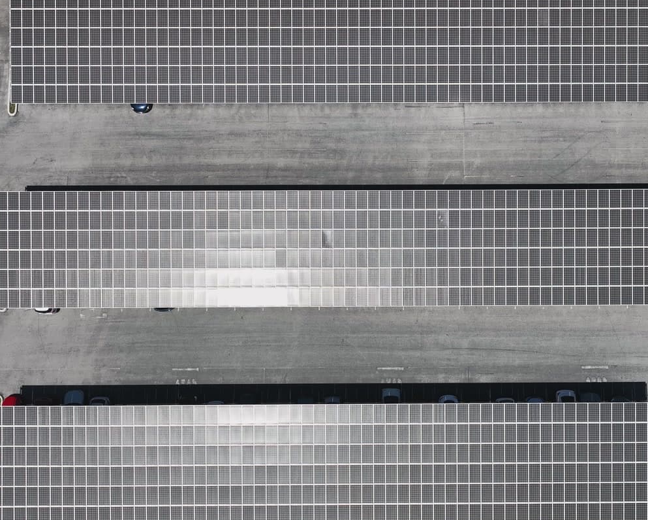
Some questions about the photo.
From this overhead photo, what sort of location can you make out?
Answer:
solar farm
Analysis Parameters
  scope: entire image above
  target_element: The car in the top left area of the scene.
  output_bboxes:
[131,102,153,114]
